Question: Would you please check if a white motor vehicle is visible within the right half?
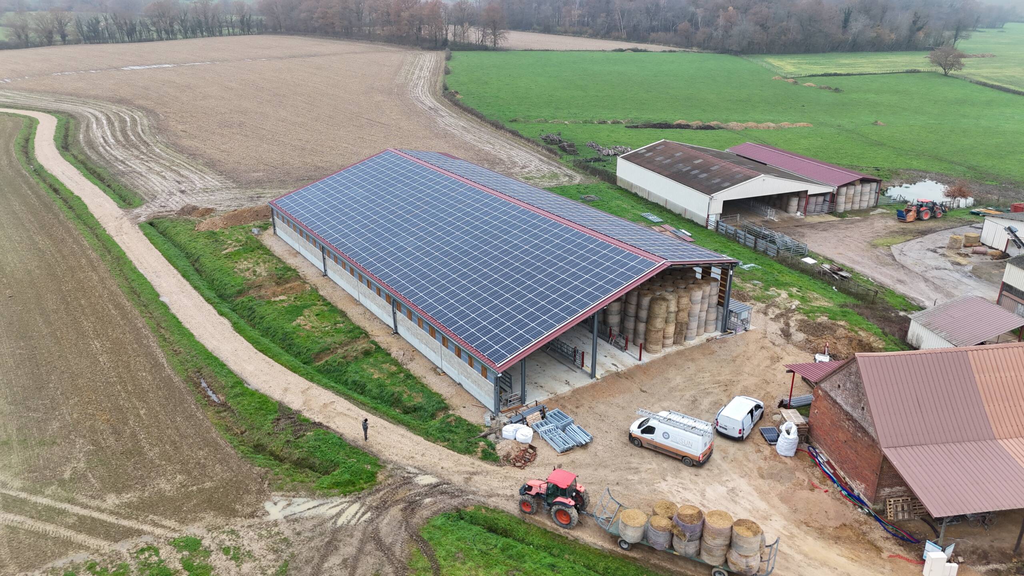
Yes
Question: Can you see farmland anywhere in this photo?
Yes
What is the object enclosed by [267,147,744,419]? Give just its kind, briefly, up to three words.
barn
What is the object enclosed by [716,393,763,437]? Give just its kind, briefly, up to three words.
van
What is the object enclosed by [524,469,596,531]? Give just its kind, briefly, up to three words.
work vehicle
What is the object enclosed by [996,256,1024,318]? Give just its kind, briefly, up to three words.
shed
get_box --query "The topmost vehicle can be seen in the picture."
[919,197,960,221]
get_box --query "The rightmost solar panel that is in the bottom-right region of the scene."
[758,423,779,438]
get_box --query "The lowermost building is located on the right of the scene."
[807,340,1024,554]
